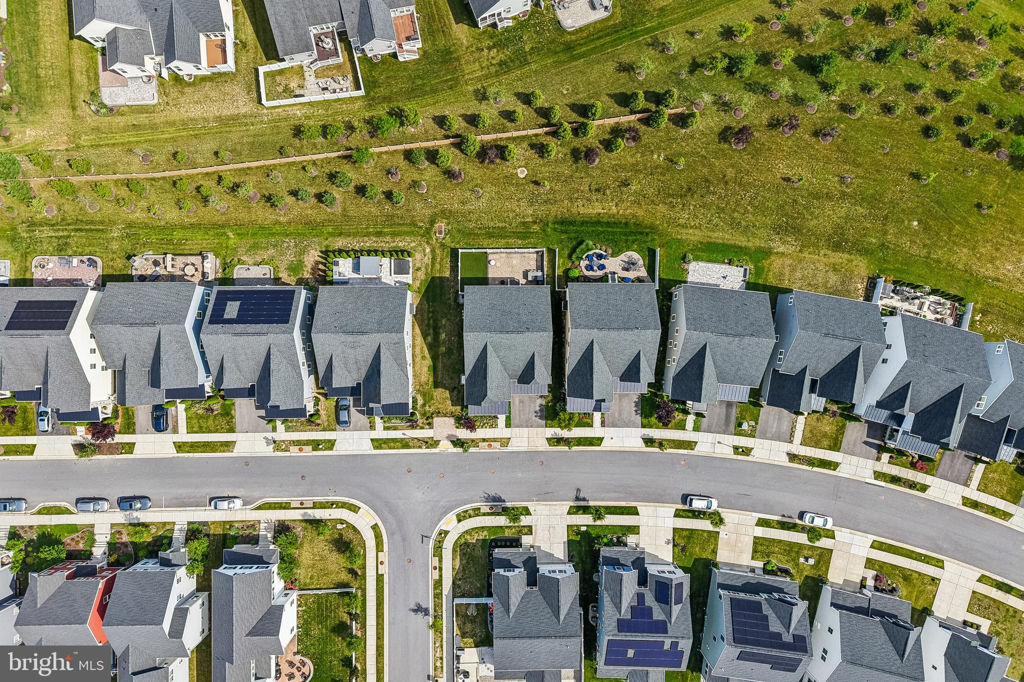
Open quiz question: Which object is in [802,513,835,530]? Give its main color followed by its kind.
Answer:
white car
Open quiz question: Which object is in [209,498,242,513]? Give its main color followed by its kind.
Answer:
white car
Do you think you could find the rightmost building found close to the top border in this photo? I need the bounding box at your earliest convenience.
[470,0,531,31]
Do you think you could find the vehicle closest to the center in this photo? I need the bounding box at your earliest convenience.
[335,398,350,429]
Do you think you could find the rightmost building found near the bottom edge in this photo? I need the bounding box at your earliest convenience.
[922,618,1011,682]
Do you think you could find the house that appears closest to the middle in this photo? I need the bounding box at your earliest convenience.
[460,286,553,416]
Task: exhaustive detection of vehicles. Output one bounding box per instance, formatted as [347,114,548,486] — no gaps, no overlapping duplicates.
[74,499,107,515]
[0,499,24,515]
[116,498,148,513]
[34,403,53,434]
[802,513,835,530]
[688,496,720,512]
[335,398,350,429]
[209,498,242,513]
[149,404,166,433]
